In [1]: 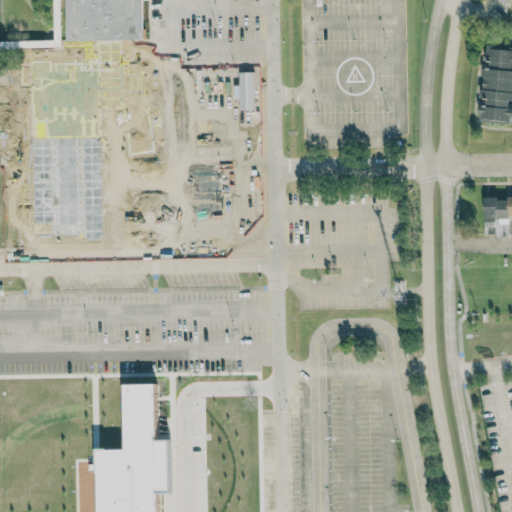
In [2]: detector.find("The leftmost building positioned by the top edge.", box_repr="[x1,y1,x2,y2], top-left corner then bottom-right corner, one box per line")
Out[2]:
[66,0,144,42]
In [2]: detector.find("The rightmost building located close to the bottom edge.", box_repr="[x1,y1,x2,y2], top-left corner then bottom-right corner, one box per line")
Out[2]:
[94,386,160,512]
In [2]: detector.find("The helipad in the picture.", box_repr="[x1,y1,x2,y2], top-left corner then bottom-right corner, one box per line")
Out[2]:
[337,58,374,96]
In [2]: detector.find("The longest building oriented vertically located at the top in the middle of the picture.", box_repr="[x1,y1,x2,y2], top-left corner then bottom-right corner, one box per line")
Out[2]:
[240,72,256,110]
